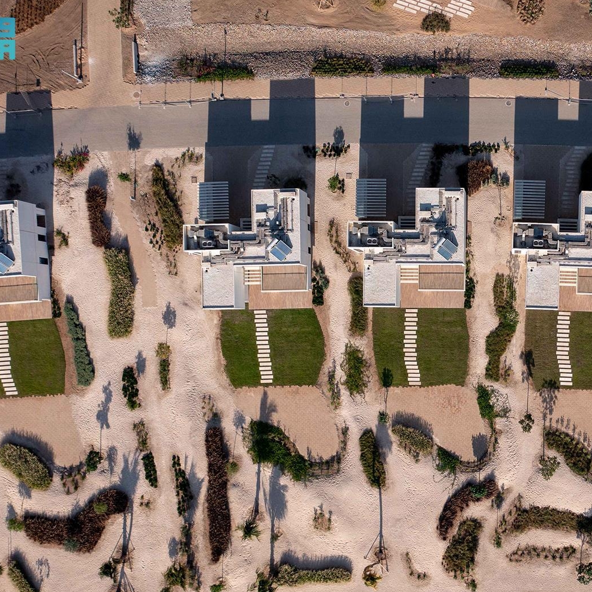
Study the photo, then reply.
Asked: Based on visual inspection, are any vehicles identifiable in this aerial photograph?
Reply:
No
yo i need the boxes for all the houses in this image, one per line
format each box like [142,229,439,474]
[183,189,314,310]
[348,188,466,308]
[511,192,592,312]
[0,200,54,322]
